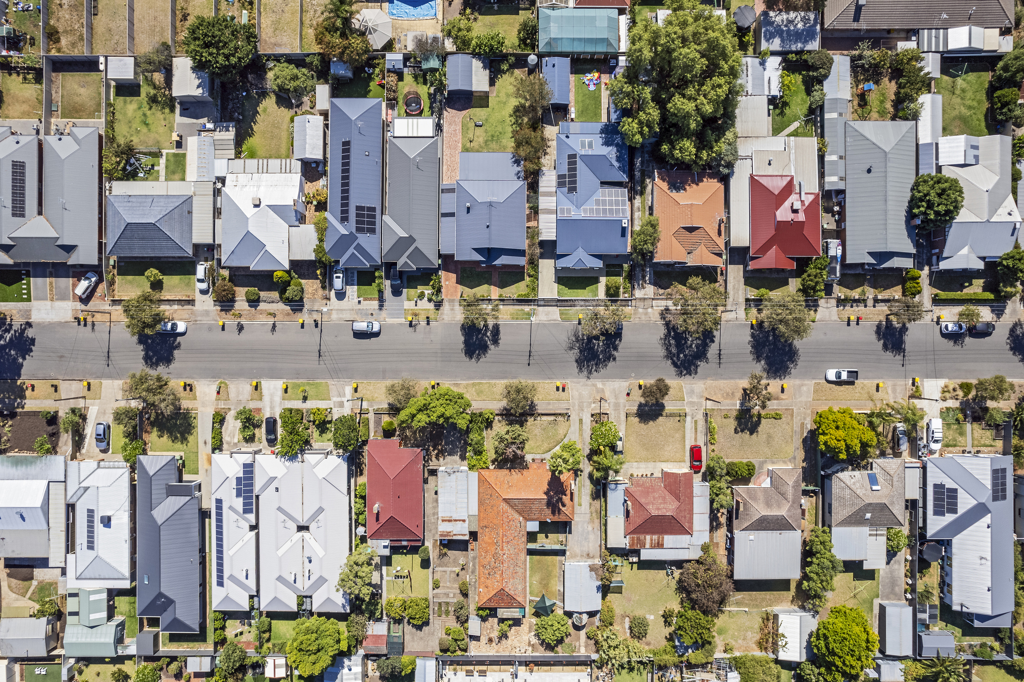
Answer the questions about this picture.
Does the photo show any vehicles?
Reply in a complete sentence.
Yes, this view includes a vehicle.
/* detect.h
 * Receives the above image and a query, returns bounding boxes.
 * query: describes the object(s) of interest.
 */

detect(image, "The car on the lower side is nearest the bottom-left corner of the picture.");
[94,421,111,449]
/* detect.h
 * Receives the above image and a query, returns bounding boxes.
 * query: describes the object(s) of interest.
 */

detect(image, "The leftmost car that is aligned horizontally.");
[155,320,188,334]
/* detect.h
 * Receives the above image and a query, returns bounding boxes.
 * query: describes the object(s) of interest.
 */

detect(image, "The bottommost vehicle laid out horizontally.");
[825,368,860,382]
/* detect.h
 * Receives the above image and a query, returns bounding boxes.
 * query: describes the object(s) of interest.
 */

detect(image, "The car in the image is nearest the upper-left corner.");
[73,271,100,300]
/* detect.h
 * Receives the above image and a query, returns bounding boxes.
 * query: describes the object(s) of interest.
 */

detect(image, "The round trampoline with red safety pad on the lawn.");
[402,88,422,110]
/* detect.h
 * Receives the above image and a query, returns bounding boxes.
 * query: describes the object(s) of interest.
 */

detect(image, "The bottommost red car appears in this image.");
[689,445,704,471]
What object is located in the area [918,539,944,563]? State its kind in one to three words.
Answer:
gazebo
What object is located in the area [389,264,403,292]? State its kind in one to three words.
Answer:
car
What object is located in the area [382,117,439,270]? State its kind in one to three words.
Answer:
house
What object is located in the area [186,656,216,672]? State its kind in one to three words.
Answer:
shed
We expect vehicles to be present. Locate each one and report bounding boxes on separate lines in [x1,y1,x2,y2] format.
[825,238,842,283]
[155,320,188,334]
[389,264,403,292]
[893,423,908,453]
[939,321,965,334]
[194,263,210,291]
[352,320,382,334]
[927,418,945,451]
[264,417,278,447]
[611,432,625,457]
[331,264,346,292]
[825,368,860,382]
[968,321,996,334]
[689,445,704,471]
[94,421,111,449]
[73,271,100,300]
